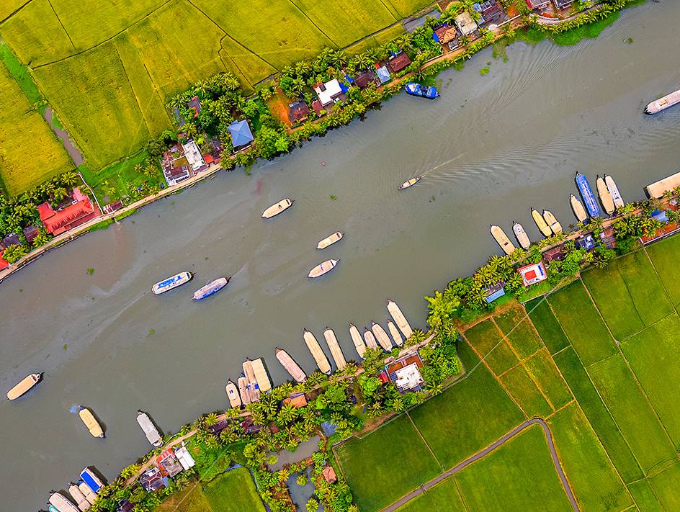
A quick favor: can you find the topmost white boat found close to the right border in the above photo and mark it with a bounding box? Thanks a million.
[642,91,680,113]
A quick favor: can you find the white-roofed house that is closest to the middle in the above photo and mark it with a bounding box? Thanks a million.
[383,350,423,395]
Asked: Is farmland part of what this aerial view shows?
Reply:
Yes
